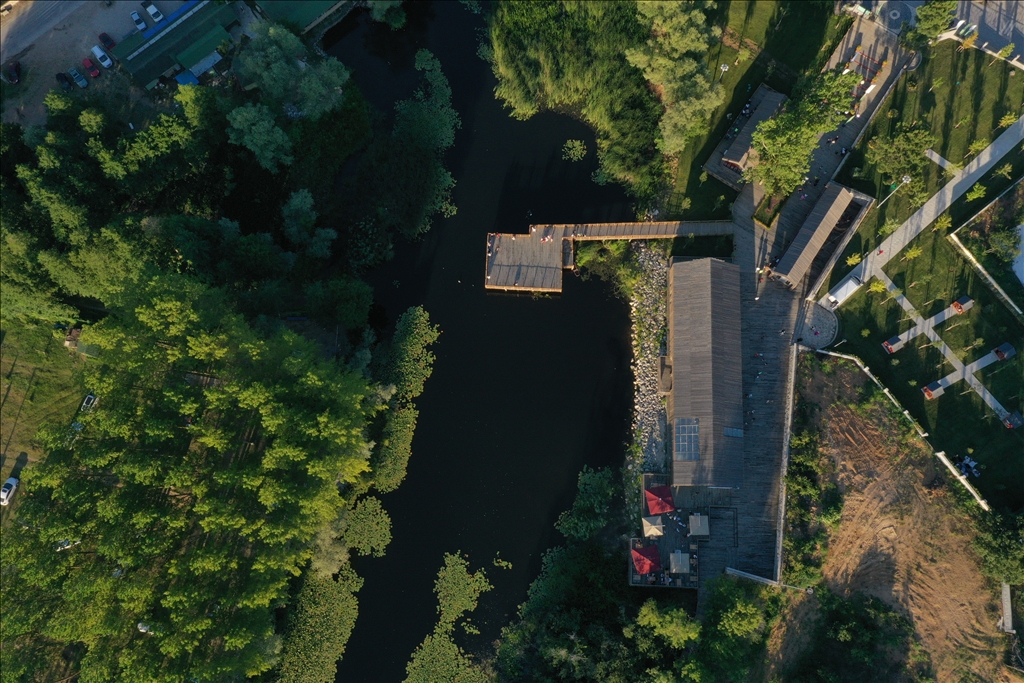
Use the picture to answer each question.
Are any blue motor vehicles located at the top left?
Yes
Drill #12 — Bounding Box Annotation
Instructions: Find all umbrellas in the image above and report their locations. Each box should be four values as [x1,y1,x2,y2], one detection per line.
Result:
[632,545,664,577]
[639,514,666,537]
[668,545,691,574]
[686,509,709,537]
[643,483,675,515]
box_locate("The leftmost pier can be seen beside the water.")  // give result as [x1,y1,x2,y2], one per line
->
[486,224,573,294]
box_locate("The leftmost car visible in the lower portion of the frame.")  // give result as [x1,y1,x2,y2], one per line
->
[0,475,23,505]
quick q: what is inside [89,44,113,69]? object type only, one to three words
car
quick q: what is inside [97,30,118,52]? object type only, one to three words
car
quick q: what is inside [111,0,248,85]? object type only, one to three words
building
